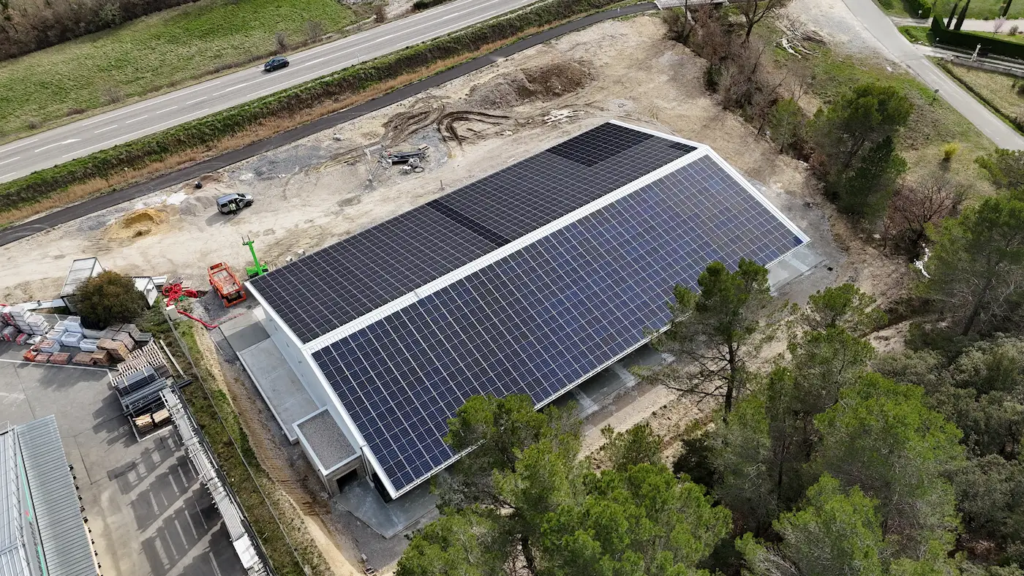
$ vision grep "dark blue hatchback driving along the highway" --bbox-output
[262,57,290,73]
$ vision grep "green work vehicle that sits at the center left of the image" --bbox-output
[239,237,273,278]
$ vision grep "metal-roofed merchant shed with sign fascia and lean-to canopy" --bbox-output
[0,416,114,576]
